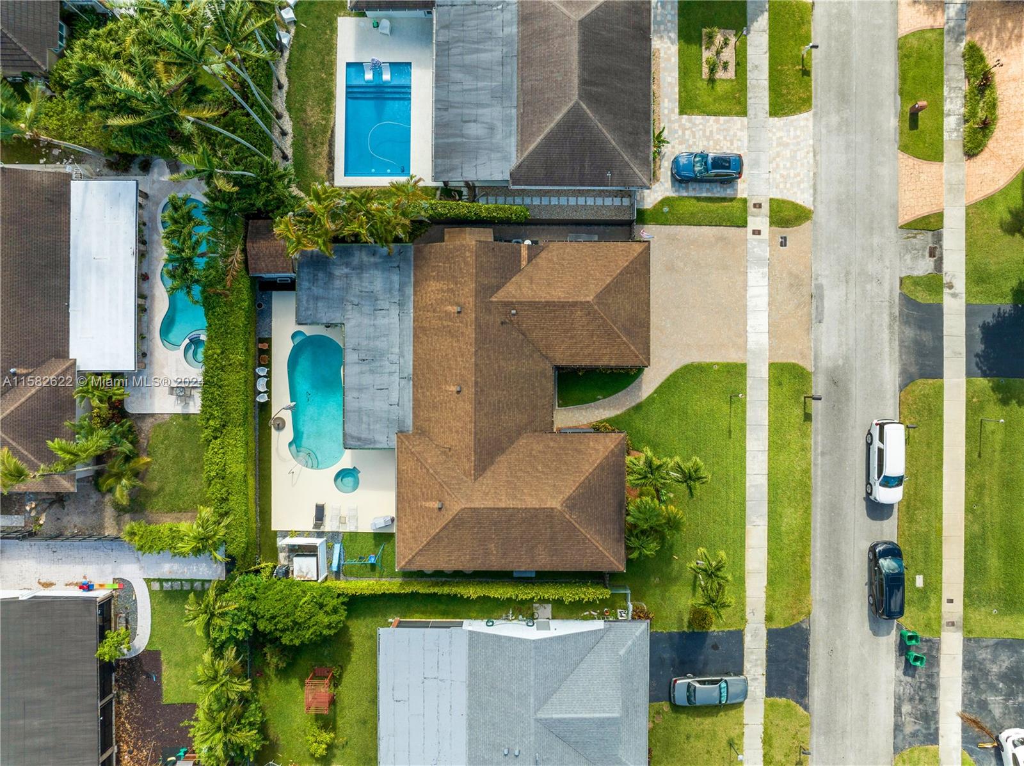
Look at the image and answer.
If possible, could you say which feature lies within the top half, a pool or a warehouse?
pool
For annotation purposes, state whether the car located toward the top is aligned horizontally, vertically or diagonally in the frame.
horizontally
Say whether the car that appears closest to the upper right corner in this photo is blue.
Yes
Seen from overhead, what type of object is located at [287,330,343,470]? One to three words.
swimming pool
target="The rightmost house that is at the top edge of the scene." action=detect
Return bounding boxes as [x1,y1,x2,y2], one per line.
[348,0,653,200]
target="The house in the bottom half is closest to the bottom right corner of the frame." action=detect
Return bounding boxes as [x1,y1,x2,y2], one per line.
[376,618,651,766]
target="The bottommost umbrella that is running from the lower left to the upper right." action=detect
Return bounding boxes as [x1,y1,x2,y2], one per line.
[270,402,297,429]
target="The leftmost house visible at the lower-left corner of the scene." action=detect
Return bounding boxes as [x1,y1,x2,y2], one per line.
[0,577,115,766]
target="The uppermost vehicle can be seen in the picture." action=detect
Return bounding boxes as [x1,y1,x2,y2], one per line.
[671,144,748,183]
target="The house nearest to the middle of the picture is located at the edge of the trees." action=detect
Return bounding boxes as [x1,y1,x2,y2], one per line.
[295,228,652,578]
